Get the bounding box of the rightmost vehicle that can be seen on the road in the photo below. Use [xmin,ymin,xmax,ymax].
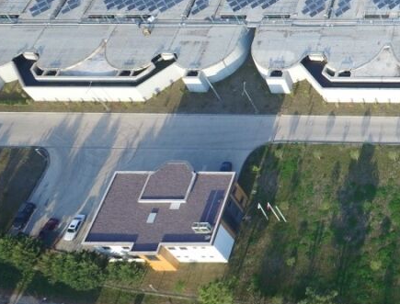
[60,209,92,248]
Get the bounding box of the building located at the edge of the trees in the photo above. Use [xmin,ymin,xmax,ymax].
[82,163,251,271]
